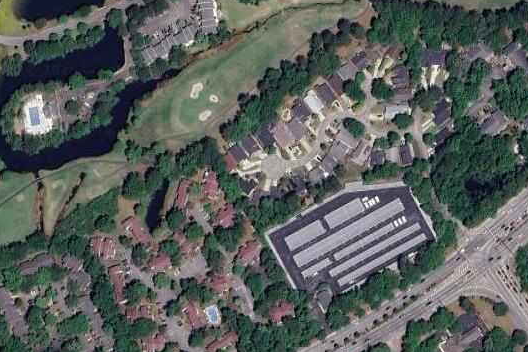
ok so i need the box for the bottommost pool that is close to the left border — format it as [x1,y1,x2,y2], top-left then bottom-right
[24,94,52,135]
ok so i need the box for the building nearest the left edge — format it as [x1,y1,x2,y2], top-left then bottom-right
[0,284,27,340]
